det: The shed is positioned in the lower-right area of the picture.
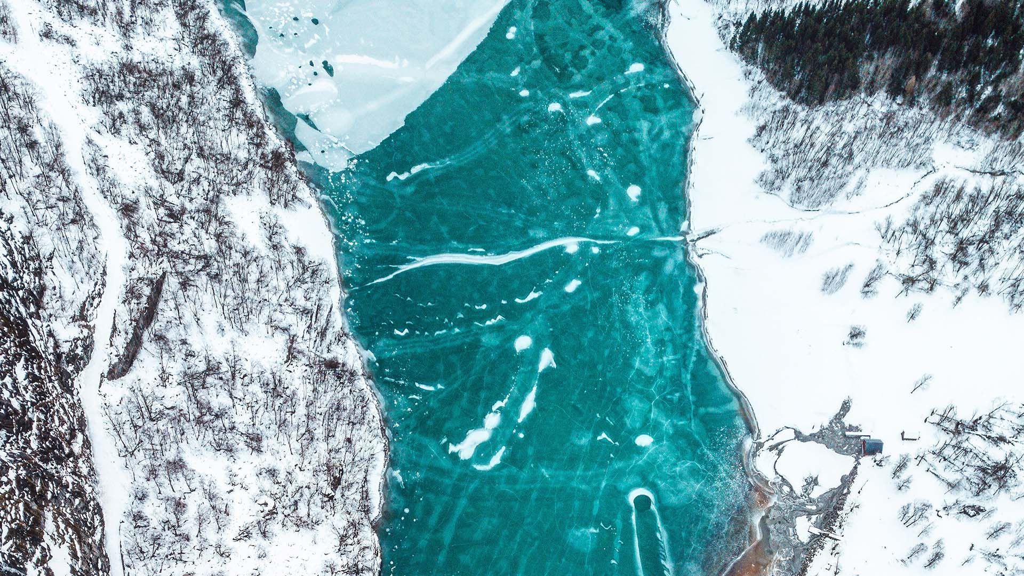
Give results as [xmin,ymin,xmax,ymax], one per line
[861,438,887,457]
